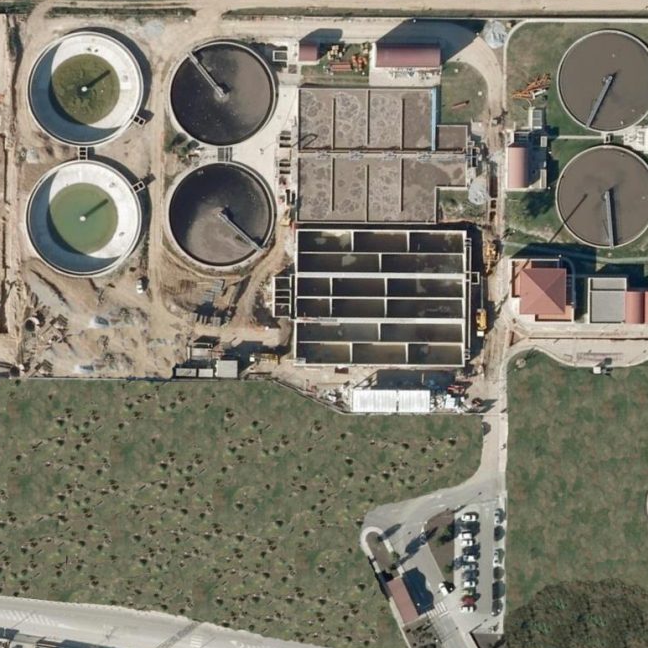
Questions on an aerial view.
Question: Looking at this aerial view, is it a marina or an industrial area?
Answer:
industrial area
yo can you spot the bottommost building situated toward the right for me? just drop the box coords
[387,577,420,626]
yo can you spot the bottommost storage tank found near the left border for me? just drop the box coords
[26,161,142,276]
